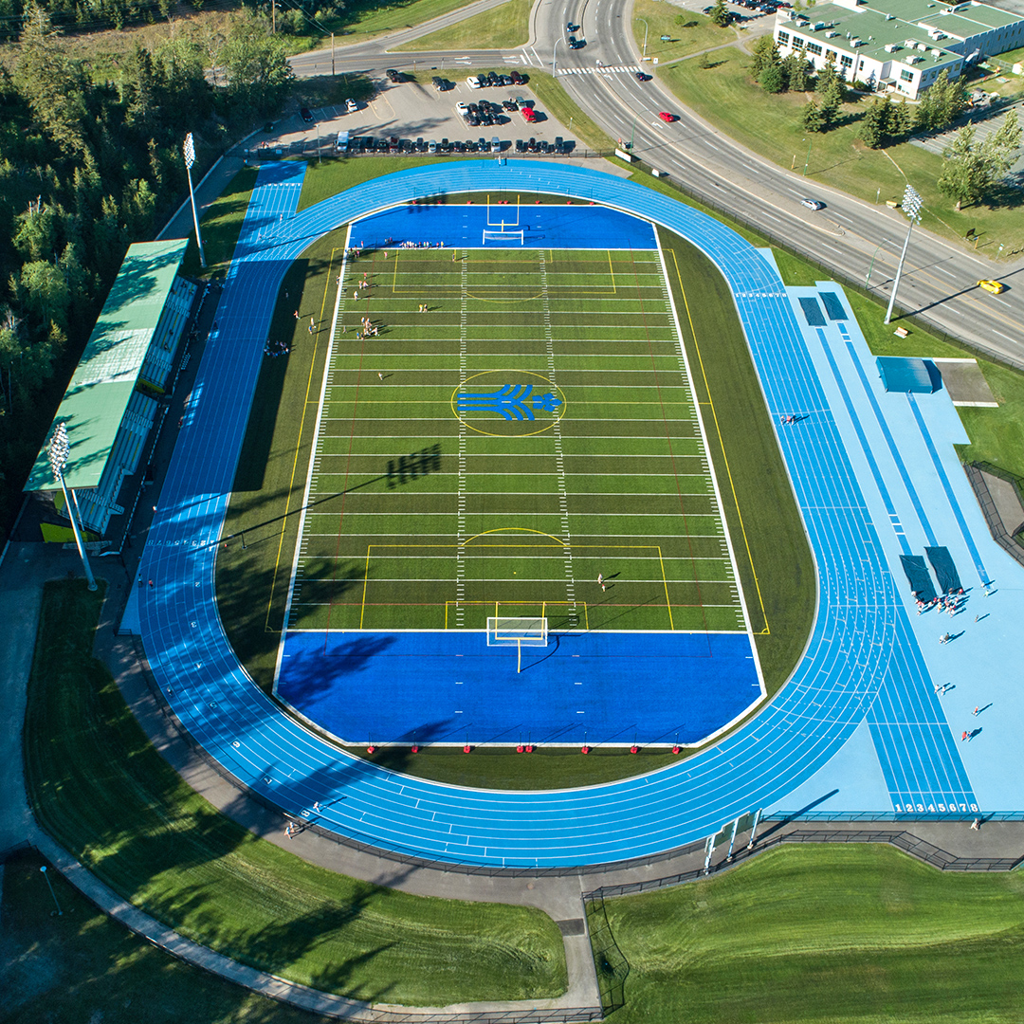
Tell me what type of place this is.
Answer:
sports ground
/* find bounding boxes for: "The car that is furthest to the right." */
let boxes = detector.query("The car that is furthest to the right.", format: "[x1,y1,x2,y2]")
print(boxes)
[978,275,1005,291]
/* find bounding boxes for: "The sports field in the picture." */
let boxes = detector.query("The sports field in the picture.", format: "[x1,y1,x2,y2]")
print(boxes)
[214,190,817,791]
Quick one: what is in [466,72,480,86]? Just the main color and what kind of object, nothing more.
white car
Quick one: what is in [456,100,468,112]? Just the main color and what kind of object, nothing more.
white vehicle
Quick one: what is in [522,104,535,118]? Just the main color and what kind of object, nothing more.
red vehicle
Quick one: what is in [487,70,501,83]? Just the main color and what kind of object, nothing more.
black vehicle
